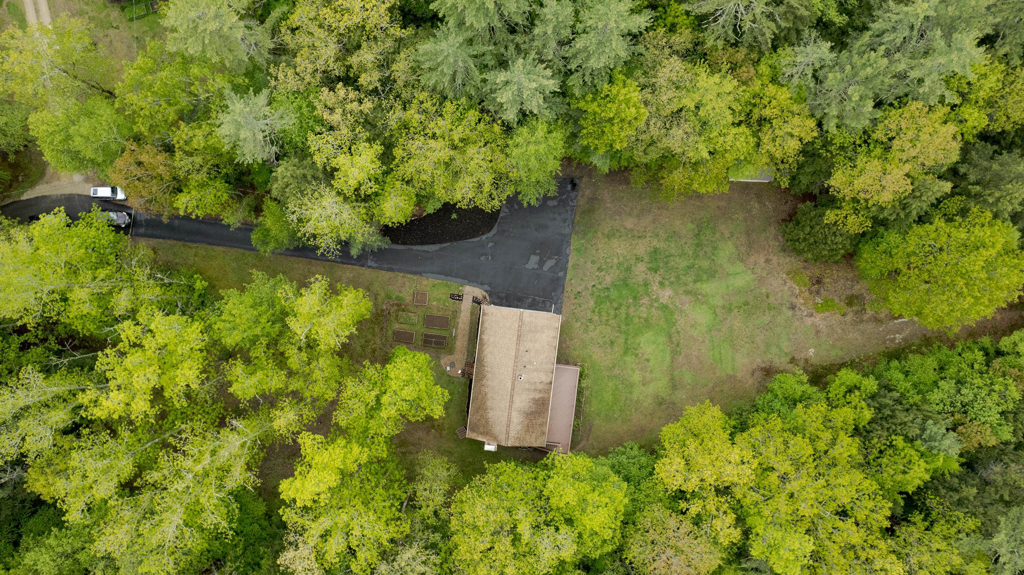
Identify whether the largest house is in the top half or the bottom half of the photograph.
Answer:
bottom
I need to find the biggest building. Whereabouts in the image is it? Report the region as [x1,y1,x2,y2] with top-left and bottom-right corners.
[465,305,563,453]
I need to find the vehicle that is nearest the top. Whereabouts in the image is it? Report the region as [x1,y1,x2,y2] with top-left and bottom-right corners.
[87,186,129,203]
